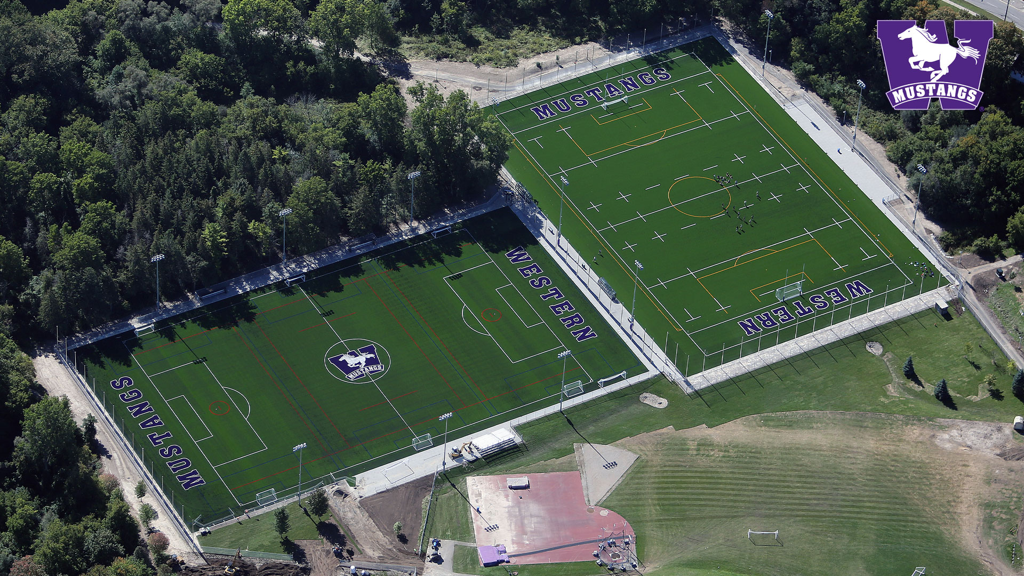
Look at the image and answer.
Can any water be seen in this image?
No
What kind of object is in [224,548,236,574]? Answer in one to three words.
vehicle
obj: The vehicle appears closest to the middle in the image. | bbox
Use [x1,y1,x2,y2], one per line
[449,441,469,462]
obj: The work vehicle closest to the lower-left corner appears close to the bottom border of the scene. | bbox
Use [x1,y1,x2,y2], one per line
[168,553,189,567]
